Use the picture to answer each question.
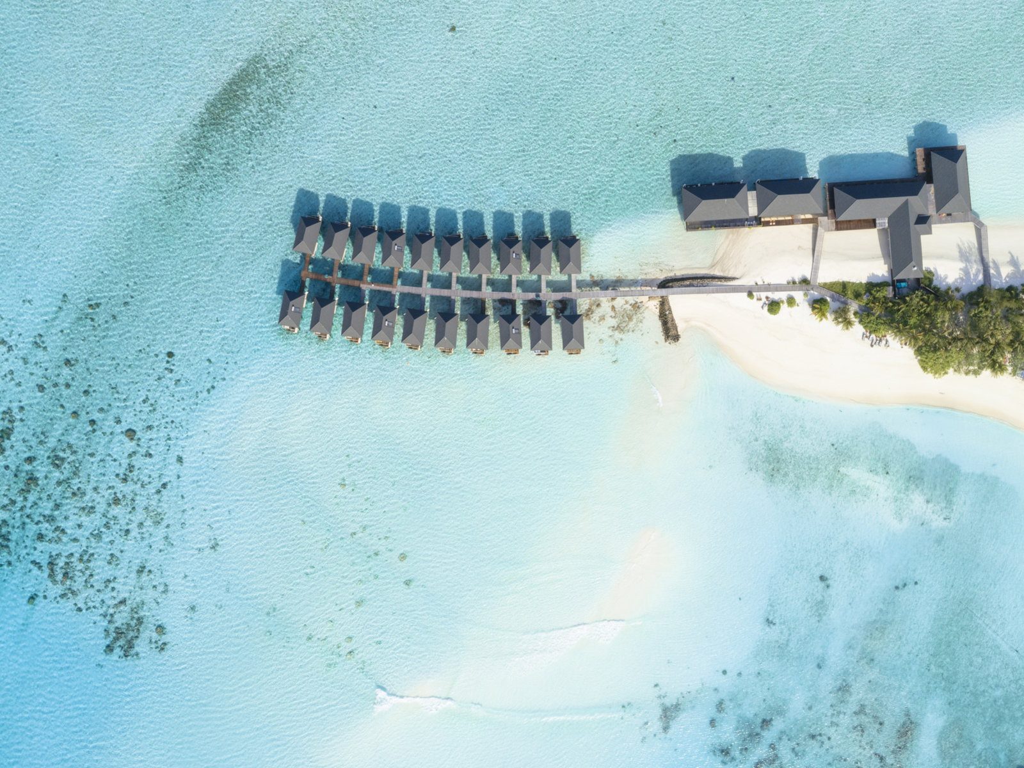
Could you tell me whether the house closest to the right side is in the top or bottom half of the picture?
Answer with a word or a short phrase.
top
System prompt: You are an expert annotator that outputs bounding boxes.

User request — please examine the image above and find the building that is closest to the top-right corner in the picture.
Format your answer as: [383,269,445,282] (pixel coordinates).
[914,144,974,224]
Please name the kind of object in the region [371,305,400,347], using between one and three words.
house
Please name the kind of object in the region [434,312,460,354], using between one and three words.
house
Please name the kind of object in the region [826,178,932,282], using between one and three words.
building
